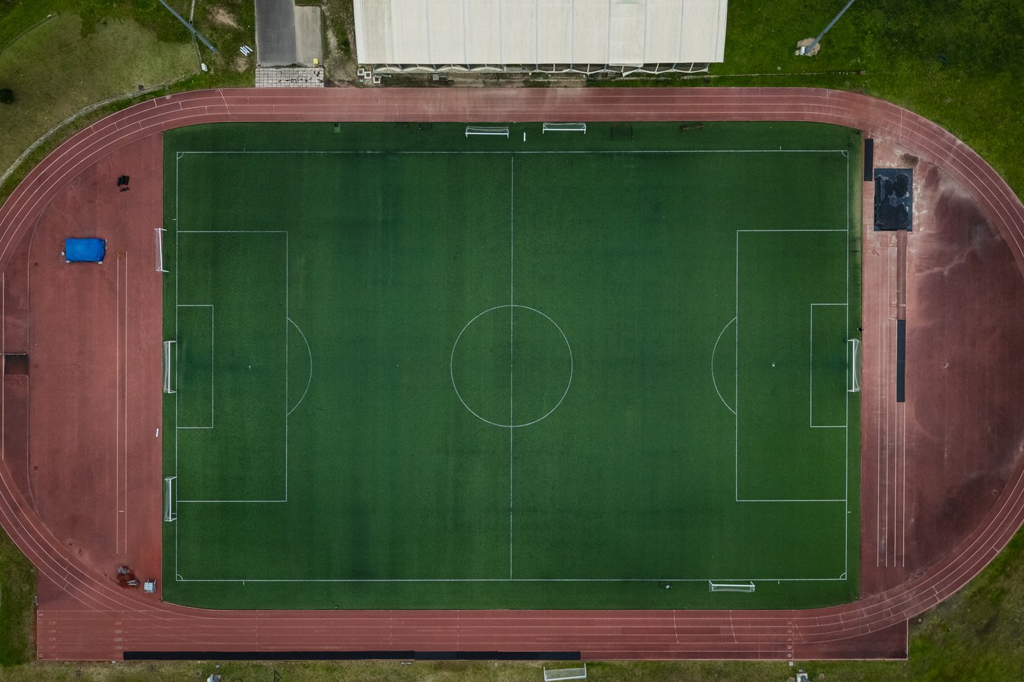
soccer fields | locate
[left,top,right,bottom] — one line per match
[162,122,862,610]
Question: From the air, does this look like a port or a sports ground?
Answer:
sports ground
